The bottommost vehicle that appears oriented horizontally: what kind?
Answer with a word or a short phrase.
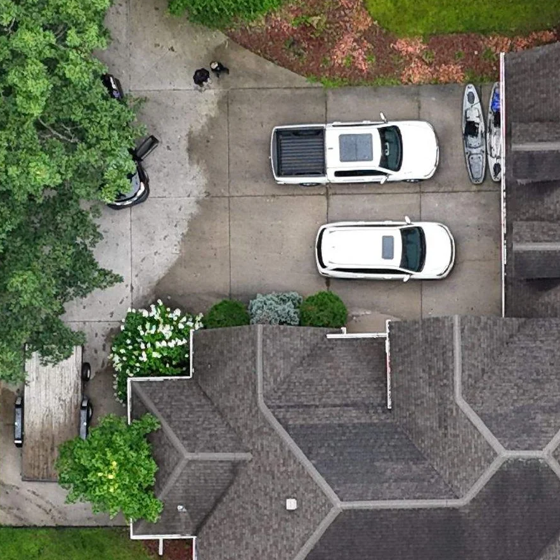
automobile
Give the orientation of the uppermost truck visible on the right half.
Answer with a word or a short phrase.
from left to right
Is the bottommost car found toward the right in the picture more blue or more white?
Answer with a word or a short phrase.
white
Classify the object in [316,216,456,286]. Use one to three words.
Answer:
car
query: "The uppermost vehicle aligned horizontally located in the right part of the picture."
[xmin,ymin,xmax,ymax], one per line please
[271,113,441,190]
